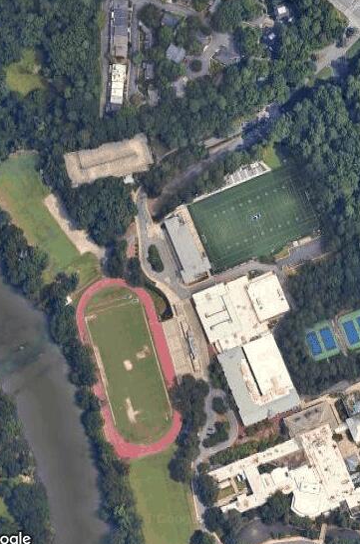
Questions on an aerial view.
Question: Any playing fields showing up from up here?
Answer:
Yes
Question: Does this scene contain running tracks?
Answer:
Yes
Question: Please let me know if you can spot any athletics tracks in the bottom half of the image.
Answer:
Yes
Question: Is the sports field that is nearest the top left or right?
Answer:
right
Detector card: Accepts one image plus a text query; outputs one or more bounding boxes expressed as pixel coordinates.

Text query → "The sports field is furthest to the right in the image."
[186,160,324,271]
